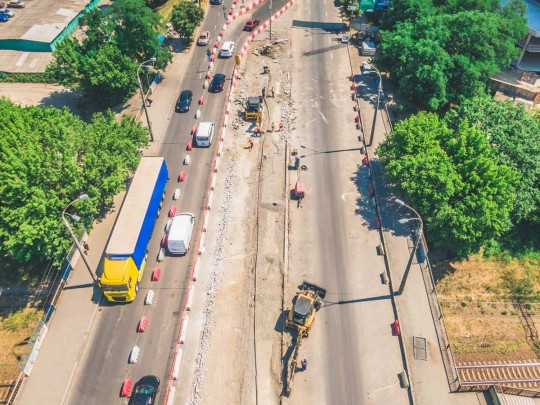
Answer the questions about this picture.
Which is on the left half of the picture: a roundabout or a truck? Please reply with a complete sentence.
The feature located on the left half of the picture is a truck.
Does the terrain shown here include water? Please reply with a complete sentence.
No, there is no water in the image.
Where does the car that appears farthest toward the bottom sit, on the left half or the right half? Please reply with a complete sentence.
The car that appears farthest toward the bottom sits on the left side.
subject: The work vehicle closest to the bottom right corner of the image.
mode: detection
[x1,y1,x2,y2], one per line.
[283,277,330,393]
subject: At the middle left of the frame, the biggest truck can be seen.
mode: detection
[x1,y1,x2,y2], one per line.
[100,159,169,305]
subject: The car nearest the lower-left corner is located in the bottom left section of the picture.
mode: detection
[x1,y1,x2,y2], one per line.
[127,378,159,405]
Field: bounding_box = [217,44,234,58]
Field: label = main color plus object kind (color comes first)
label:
white car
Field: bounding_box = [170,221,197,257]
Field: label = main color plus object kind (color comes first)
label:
white vehicle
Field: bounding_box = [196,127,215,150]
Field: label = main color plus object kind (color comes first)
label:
white vehicle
